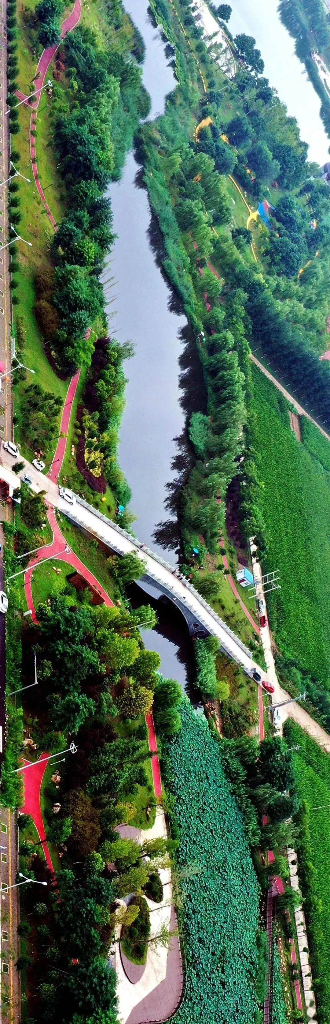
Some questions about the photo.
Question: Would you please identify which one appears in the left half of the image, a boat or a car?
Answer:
car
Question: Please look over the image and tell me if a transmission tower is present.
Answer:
Yes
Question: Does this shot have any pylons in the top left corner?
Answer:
No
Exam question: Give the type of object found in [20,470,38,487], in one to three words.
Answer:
car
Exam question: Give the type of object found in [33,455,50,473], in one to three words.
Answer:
car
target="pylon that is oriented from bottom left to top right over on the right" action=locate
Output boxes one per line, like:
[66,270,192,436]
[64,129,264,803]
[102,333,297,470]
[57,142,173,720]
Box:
[248,569,282,599]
